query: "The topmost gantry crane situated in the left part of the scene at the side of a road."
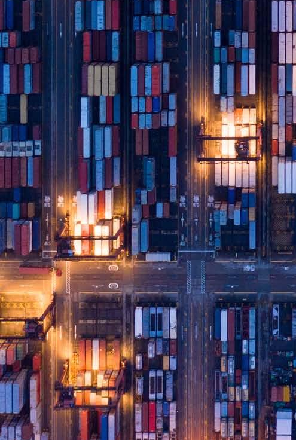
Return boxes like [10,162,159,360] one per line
[50,215,128,261]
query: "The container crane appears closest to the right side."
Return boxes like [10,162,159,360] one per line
[196,119,265,161]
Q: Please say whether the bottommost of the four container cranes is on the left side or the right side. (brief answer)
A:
left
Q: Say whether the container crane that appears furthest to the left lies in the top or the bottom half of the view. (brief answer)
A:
bottom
